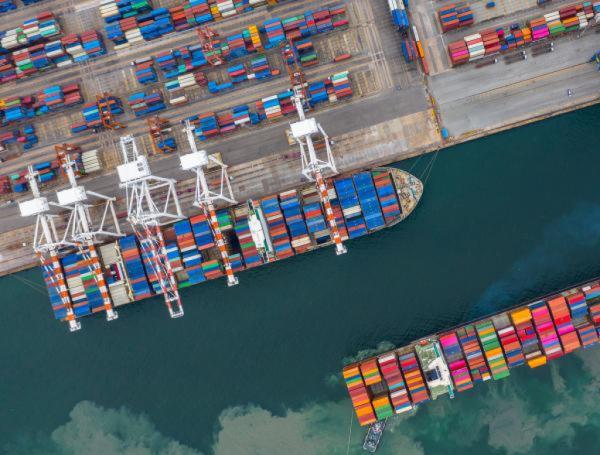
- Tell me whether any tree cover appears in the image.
No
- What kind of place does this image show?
port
